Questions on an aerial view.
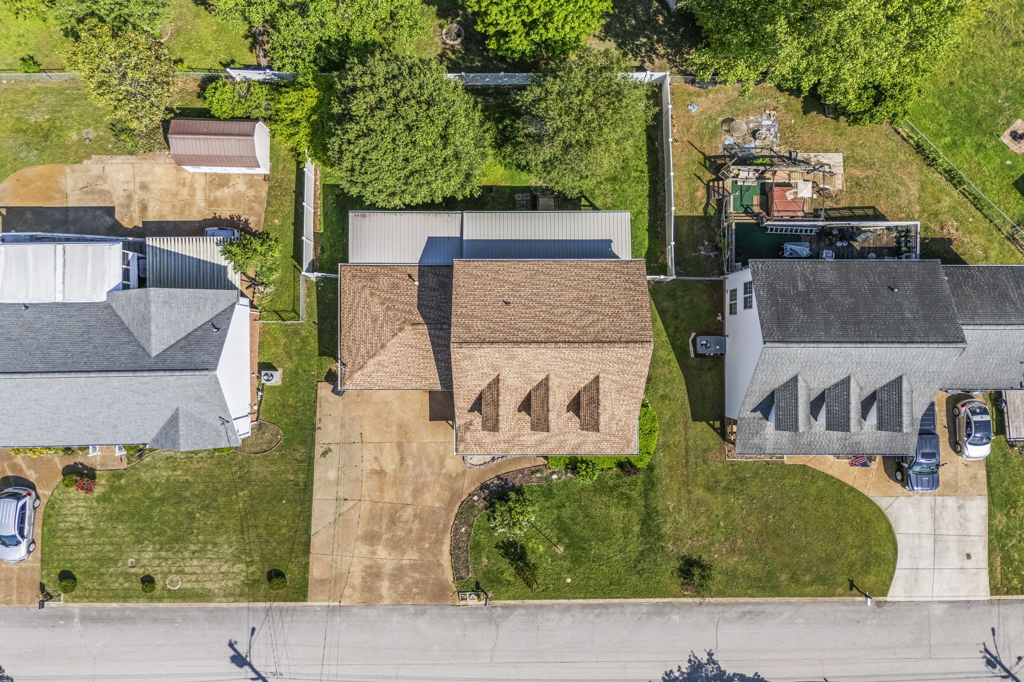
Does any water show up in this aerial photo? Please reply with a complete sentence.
No, there's no water in this view.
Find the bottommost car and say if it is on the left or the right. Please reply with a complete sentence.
You can find the bottommost car on the left side of the picture.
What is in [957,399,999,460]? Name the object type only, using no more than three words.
car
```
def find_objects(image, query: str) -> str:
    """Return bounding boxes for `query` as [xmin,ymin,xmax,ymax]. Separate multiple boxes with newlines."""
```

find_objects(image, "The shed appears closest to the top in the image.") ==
[170,119,269,178]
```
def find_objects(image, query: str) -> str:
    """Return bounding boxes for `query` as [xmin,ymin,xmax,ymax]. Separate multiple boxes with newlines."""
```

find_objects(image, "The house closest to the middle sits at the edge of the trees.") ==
[338,258,654,457]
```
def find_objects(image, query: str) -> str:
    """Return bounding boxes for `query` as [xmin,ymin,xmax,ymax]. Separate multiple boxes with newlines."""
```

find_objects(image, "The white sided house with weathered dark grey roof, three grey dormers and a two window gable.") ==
[722,258,1024,456]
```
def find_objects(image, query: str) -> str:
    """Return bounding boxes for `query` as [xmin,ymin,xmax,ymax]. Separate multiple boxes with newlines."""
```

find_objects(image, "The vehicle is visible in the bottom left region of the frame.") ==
[0,489,41,562]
